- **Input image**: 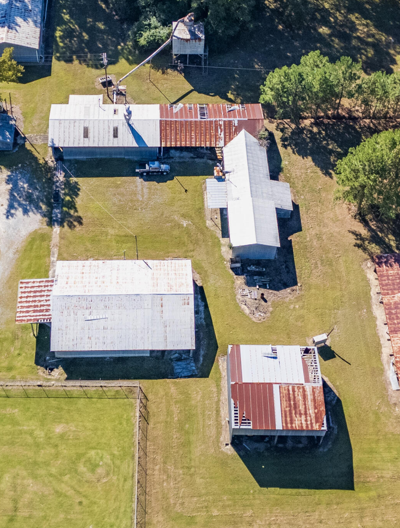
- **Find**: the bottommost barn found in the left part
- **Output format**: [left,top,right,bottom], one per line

[16,260,194,357]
